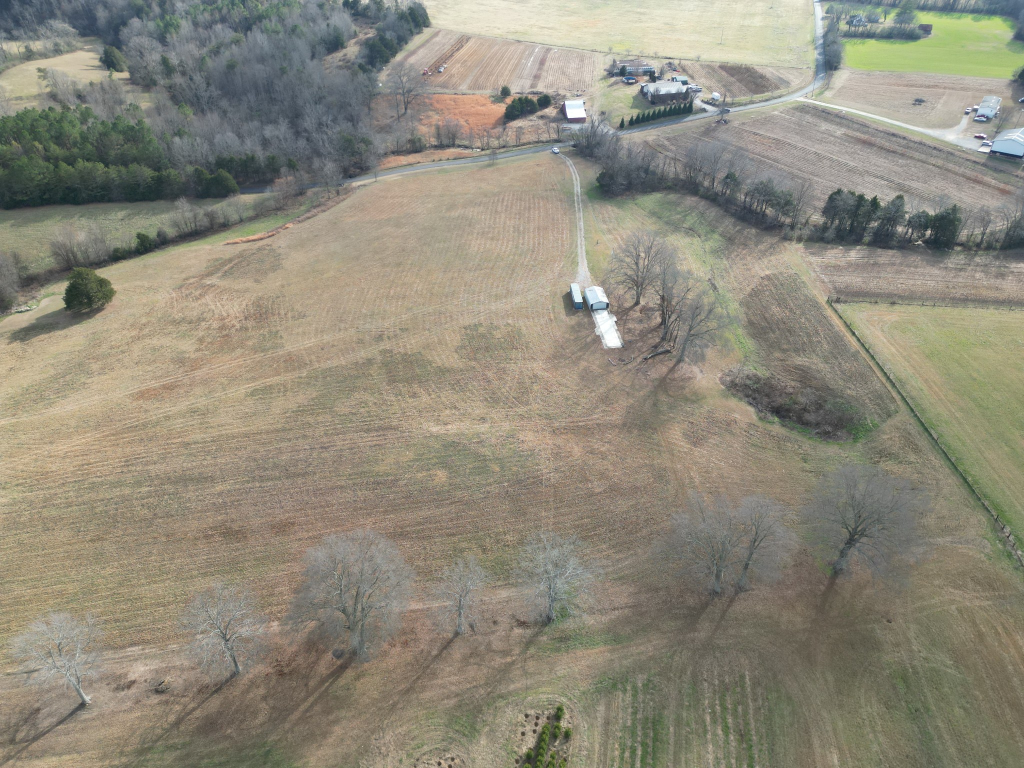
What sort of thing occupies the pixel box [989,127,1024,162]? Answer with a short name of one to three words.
barn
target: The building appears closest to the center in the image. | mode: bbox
[584,285,610,310]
